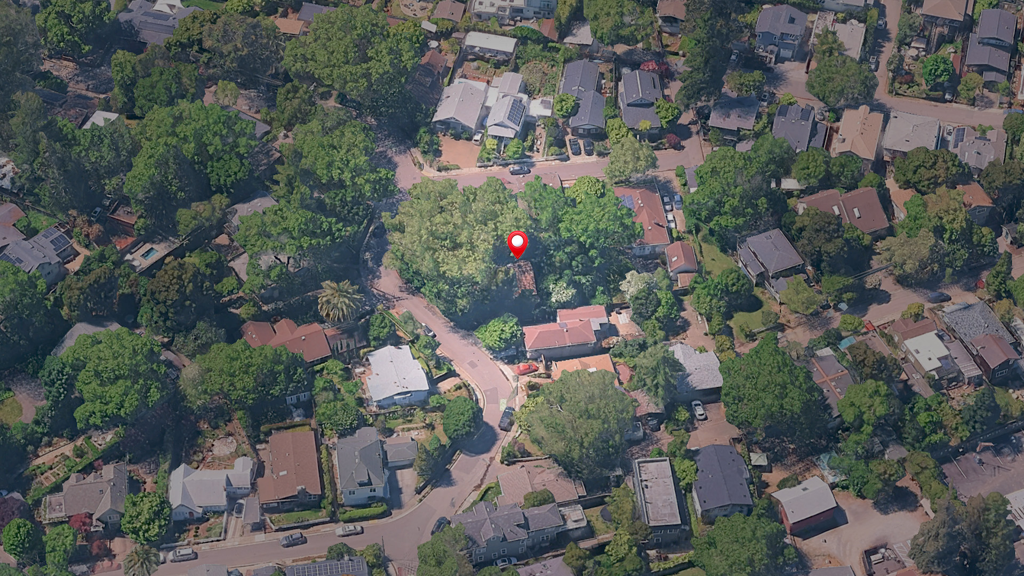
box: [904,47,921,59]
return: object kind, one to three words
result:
umbrella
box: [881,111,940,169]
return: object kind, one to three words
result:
house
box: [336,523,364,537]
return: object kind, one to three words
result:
car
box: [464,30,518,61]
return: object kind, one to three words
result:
building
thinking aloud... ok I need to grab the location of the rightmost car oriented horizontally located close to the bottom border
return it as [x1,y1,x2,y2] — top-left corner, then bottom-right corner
[491,554,520,568]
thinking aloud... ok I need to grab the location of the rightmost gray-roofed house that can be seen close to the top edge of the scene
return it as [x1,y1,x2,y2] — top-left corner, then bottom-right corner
[961,8,1017,92]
